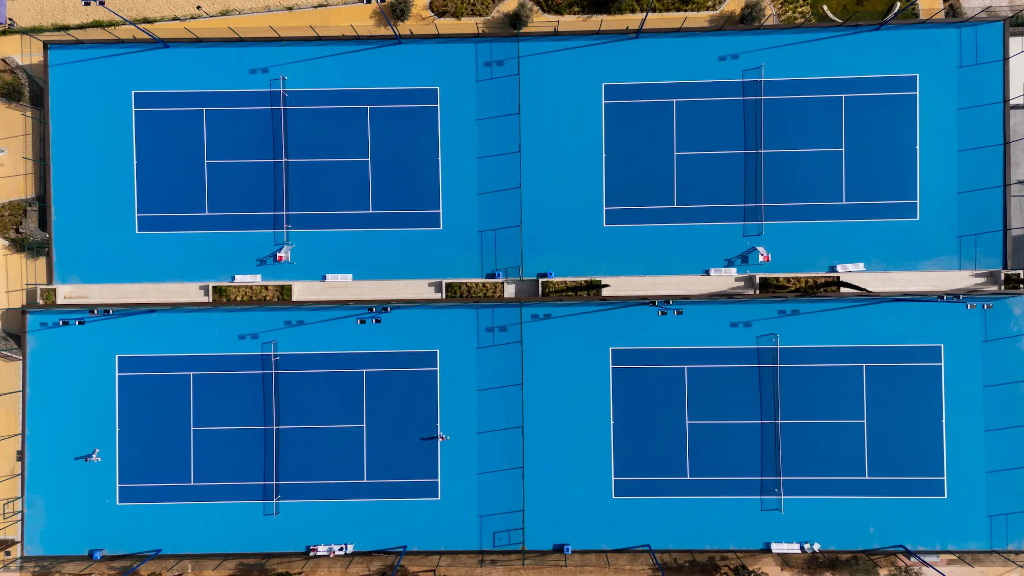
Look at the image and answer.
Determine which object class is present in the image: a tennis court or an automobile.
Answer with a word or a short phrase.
tennis court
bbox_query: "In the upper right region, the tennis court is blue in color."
[519,20,1005,277]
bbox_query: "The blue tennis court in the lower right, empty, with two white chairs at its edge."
[522,297,1024,551]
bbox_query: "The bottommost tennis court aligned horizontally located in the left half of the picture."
[24,304,524,555]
